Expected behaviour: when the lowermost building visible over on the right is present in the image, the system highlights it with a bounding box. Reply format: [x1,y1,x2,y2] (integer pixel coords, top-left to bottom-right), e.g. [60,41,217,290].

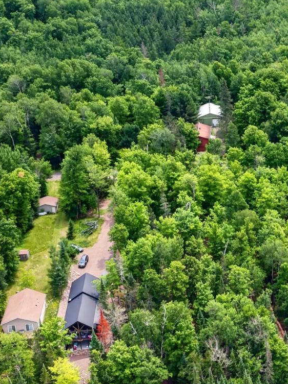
[193,124,215,153]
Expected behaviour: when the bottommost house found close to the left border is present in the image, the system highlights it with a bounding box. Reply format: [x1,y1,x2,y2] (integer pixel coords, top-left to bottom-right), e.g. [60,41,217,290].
[2,289,48,335]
